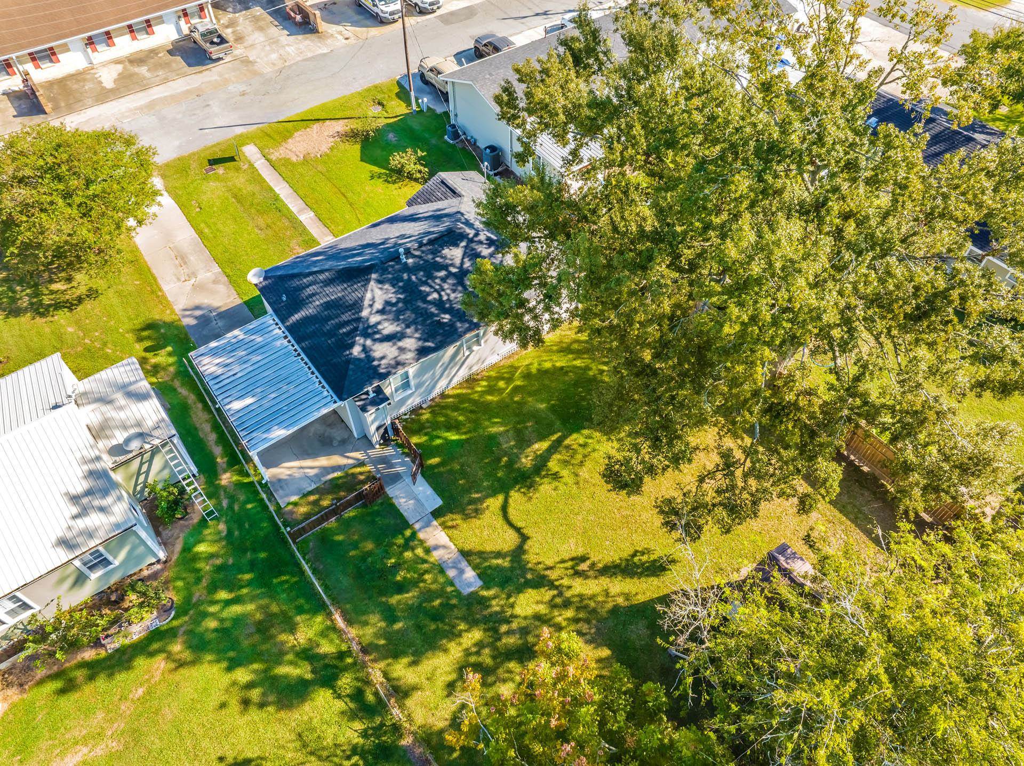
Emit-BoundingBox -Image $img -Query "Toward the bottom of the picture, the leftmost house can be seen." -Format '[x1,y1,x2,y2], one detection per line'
[0,349,205,648]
